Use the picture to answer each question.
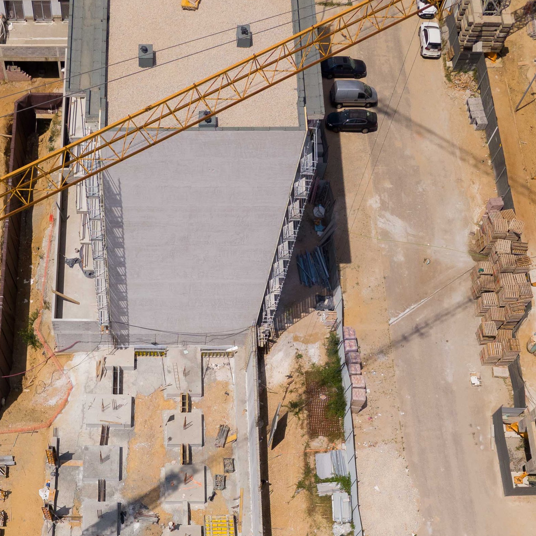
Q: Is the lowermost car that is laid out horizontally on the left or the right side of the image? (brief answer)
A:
right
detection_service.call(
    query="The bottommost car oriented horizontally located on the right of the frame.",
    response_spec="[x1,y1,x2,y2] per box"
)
[326,110,378,135]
